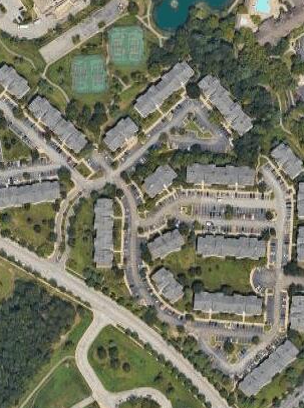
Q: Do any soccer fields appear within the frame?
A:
No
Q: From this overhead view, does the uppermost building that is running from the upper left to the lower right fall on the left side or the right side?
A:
left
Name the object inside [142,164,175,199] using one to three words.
building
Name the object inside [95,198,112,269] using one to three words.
building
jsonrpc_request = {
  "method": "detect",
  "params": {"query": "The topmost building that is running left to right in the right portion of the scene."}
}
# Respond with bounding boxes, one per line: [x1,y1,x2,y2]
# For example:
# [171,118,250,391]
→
[186,165,255,188]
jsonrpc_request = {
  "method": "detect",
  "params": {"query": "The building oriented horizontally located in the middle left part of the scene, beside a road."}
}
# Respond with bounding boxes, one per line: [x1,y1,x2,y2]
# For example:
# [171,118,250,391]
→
[0,184,62,209]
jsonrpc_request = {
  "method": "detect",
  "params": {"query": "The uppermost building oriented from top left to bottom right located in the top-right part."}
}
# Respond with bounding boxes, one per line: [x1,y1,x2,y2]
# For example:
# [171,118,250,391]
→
[197,77,252,135]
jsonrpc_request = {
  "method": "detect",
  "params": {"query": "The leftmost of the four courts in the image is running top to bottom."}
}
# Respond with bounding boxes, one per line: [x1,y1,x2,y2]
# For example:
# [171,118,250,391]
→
[72,57,90,94]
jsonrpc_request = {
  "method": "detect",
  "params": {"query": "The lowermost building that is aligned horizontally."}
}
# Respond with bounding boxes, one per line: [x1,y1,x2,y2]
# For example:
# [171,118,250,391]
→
[193,292,262,316]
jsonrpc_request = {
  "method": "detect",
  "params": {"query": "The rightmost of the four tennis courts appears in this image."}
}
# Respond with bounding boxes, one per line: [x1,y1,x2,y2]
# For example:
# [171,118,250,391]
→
[126,27,144,65]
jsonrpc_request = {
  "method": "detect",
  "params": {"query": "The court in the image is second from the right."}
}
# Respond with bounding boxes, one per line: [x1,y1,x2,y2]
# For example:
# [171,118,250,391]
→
[109,27,127,65]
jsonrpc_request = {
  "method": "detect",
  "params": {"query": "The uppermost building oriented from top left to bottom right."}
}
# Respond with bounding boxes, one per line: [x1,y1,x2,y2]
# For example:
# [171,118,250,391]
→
[0,64,29,100]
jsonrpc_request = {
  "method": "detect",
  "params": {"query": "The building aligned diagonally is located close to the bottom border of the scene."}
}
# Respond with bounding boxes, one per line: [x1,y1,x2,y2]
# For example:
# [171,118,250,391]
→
[243,342,297,393]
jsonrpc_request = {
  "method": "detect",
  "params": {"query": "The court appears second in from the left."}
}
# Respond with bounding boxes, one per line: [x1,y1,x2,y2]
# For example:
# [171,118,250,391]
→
[90,57,107,94]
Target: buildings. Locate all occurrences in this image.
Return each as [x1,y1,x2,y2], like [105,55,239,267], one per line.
[151,271,185,302]
[31,98,87,155]
[243,342,297,393]
[196,236,266,259]
[0,184,62,209]
[297,183,304,219]
[95,198,112,269]
[270,146,304,179]
[149,232,184,260]
[258,0,304,45]
[102,118,138,153]
[133,63,194,117]
[297,226,304,264]
[142,164,175,199]
[186,165,255,188]
[193,292,262,316]
[197,77,252,135]
[0,64,29,100]
[290,296,304,334]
